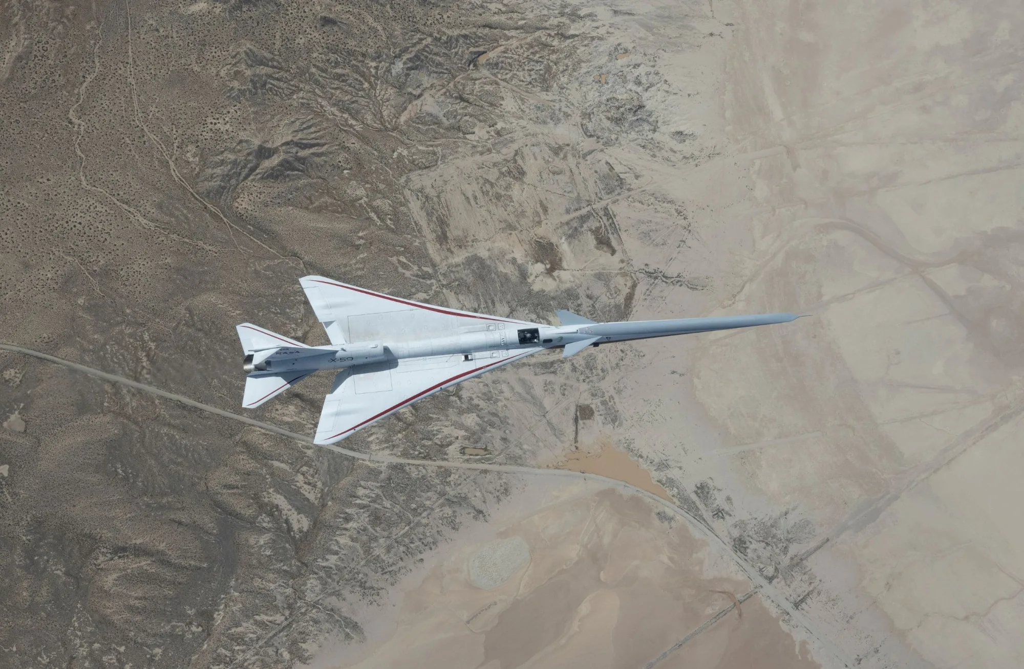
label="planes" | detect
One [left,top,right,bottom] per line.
[237,274,813,444]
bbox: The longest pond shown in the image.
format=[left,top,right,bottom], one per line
[561,443,671,500]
